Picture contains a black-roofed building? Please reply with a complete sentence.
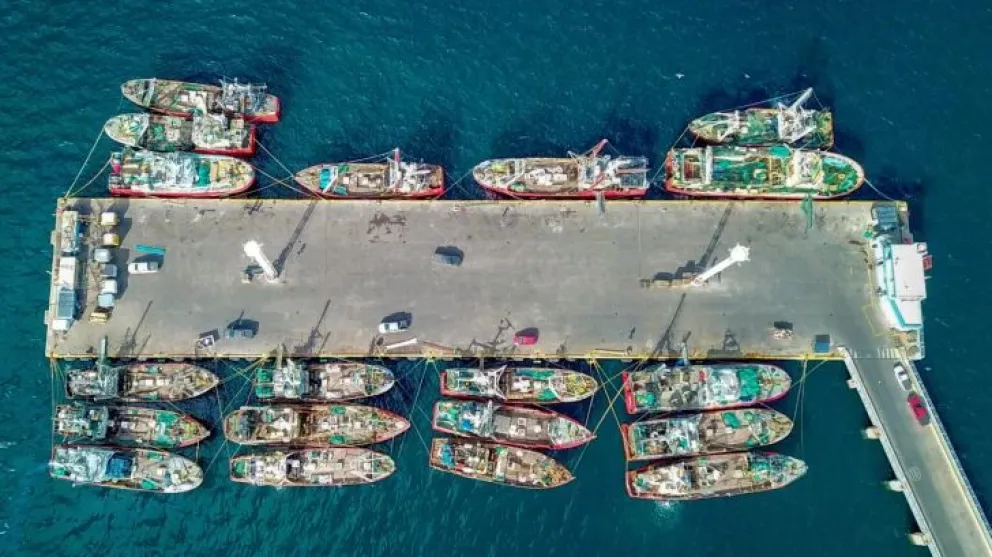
No, I find no black-roofed building anywhere in the image.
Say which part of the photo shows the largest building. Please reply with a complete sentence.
The largest building sits in the right section of the image.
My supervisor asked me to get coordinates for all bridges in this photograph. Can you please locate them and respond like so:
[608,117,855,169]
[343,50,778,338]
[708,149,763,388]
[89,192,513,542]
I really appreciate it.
[839,337,992,557]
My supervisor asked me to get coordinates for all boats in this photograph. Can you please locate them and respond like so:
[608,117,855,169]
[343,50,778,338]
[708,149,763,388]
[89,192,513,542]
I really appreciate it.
[690,82,834,151]
[431,399,601,447]
[442,365,599,404]
[51,405,209,447]
[103,103,261,158]
[294,148,443,199]
[474,140,653,198]
[46,446,204,494]
[428,438,574,486]
[230,448,395,487]
[623,451,808,497]
[254,362,395,401]
[224,403,410,446]
[622,366,792,412]
[618,410,795,459]
[119,65,282,123]
[64,365,218,404]
[662,146,865,200]
[107,144,254,197]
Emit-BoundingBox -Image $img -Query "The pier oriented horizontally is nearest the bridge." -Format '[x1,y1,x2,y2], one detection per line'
[44,199,922,362]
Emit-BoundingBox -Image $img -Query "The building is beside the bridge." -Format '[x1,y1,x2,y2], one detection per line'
[872,238,931,331]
